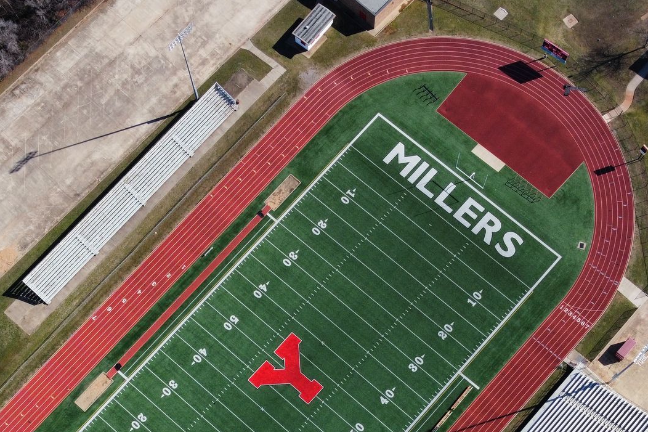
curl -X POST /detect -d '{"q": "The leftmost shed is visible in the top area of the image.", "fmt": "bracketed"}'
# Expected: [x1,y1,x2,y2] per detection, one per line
[291,3,336,49]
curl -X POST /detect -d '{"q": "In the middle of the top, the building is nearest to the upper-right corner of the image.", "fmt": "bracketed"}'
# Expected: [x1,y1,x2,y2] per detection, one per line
[352,0,403,28]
